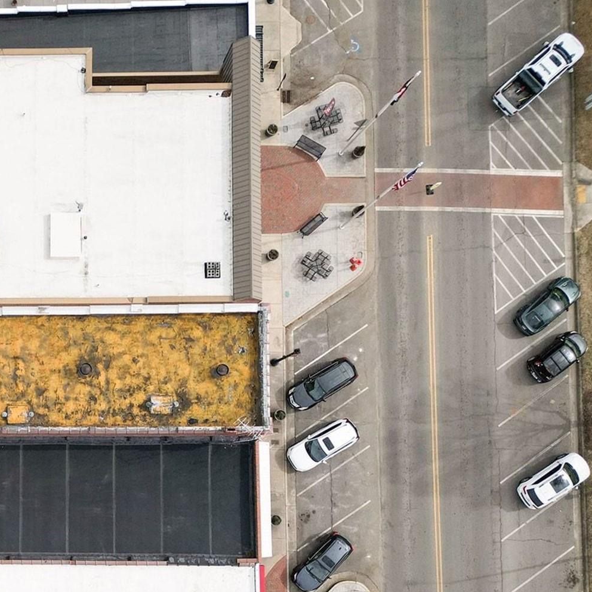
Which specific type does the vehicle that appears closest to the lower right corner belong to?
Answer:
automobile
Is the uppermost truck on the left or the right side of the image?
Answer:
right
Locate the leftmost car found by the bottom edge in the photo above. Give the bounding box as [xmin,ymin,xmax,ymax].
[289,525,356,592]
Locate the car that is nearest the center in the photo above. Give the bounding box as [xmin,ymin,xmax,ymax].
[283,356,359,411]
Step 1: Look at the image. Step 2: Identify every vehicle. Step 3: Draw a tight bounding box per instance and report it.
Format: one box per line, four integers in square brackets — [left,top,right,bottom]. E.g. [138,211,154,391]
[505,278,578,340]
[519,332,585,387]
[510,452,587,511]
[283,415,360,473]
[283,356,359,411]
[491,38,579,116]
[289,525,356,592]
